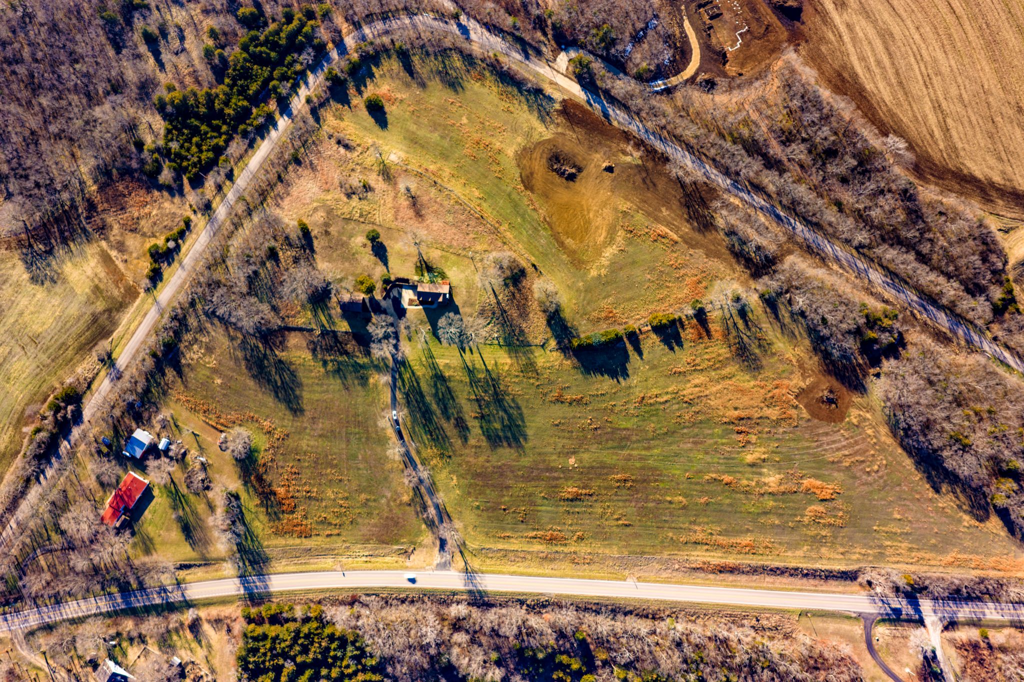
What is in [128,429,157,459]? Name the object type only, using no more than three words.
building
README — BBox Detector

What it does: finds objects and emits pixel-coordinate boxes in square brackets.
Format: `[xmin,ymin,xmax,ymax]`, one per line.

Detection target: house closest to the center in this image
[417,283,450,307]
